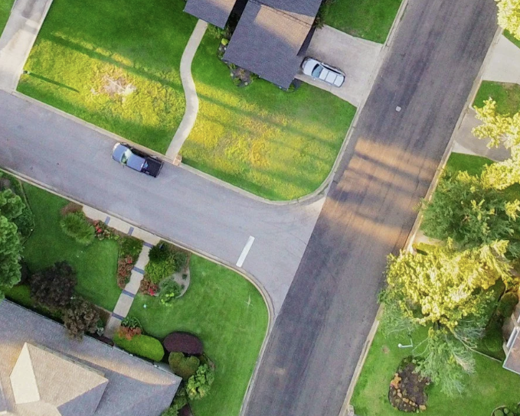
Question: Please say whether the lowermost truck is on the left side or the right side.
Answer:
left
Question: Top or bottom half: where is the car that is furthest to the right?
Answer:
top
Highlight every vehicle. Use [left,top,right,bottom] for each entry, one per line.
[108,140,167,181]
[297,54,350,89]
